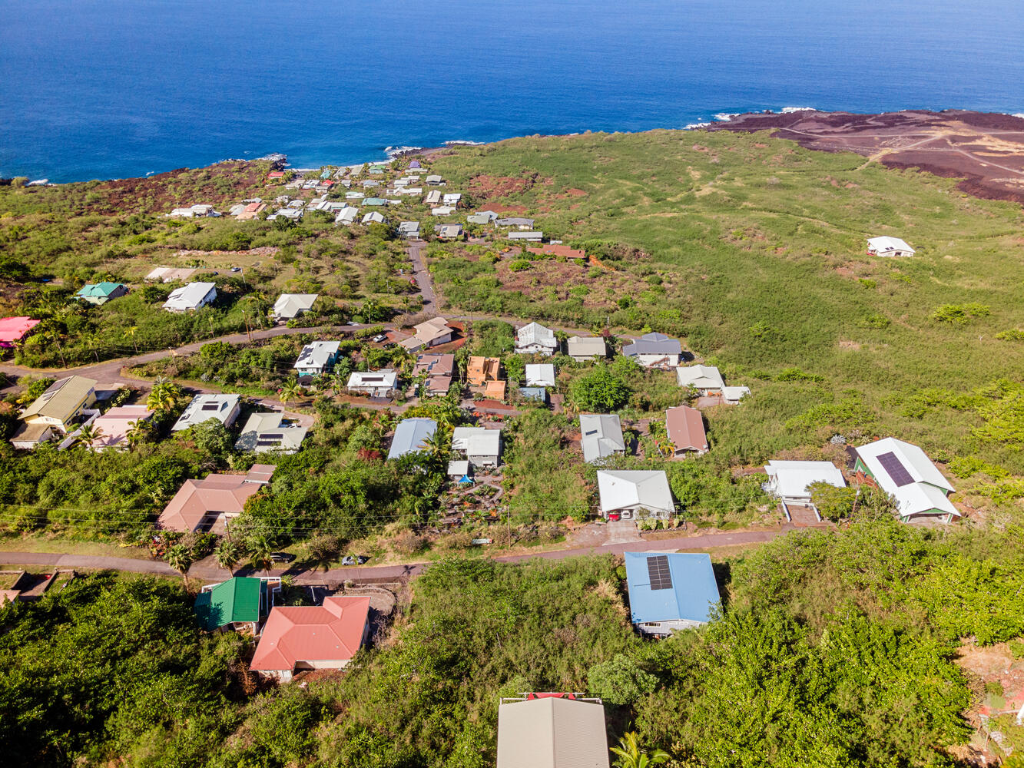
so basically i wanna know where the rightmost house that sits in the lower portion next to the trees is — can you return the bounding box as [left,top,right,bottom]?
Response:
[858,442,963,524]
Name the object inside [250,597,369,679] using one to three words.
house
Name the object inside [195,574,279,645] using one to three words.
house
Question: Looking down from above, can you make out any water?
Yes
